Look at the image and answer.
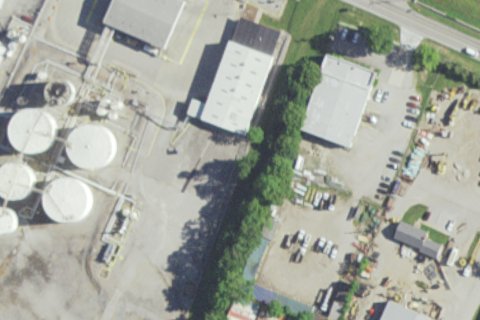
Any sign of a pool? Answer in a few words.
No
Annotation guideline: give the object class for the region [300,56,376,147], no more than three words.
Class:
building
